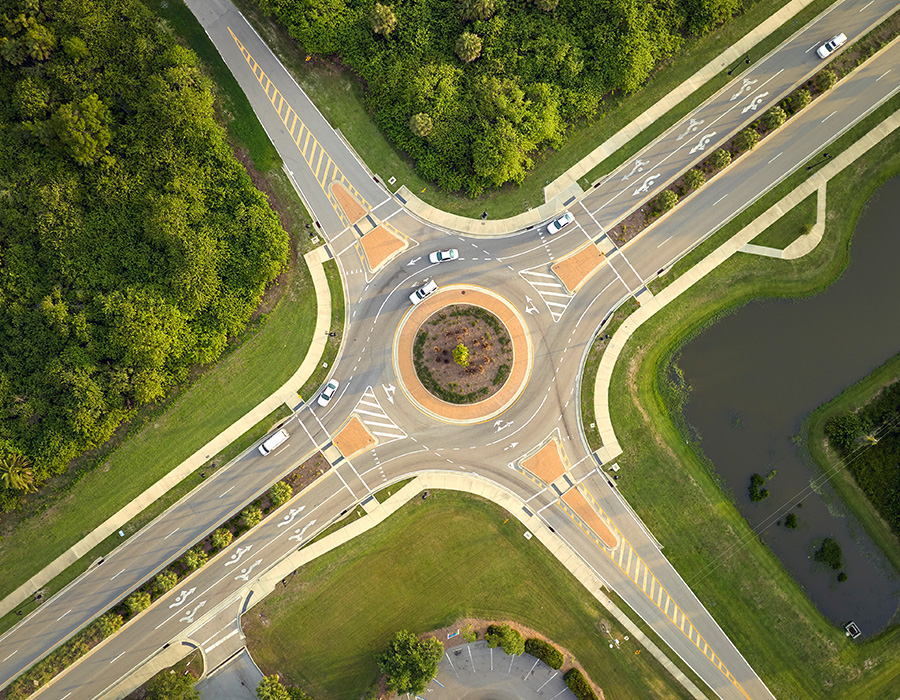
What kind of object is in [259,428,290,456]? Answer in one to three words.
vehicle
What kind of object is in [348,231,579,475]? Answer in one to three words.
roundabout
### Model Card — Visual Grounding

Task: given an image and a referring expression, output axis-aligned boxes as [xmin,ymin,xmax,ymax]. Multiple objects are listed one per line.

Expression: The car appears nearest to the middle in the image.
[410,280,438,304]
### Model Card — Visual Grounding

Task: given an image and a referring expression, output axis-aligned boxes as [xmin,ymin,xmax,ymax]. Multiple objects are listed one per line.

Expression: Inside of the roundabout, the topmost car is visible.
[430,250,459,263]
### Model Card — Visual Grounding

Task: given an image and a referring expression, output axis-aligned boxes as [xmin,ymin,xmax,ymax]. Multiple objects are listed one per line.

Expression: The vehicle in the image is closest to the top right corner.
[817,30,850,59]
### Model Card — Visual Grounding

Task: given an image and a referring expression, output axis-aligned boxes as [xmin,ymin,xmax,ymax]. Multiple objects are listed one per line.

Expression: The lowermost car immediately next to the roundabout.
[318,378,340,406]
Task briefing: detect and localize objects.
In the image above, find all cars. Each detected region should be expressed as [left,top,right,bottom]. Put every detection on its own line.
[410,280,438,304]
[547,212,576,235]
[318,378,340,406]
[817,30,850,59]
[430,250,459,263]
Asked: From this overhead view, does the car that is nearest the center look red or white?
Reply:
white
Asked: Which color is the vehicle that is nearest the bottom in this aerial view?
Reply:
white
